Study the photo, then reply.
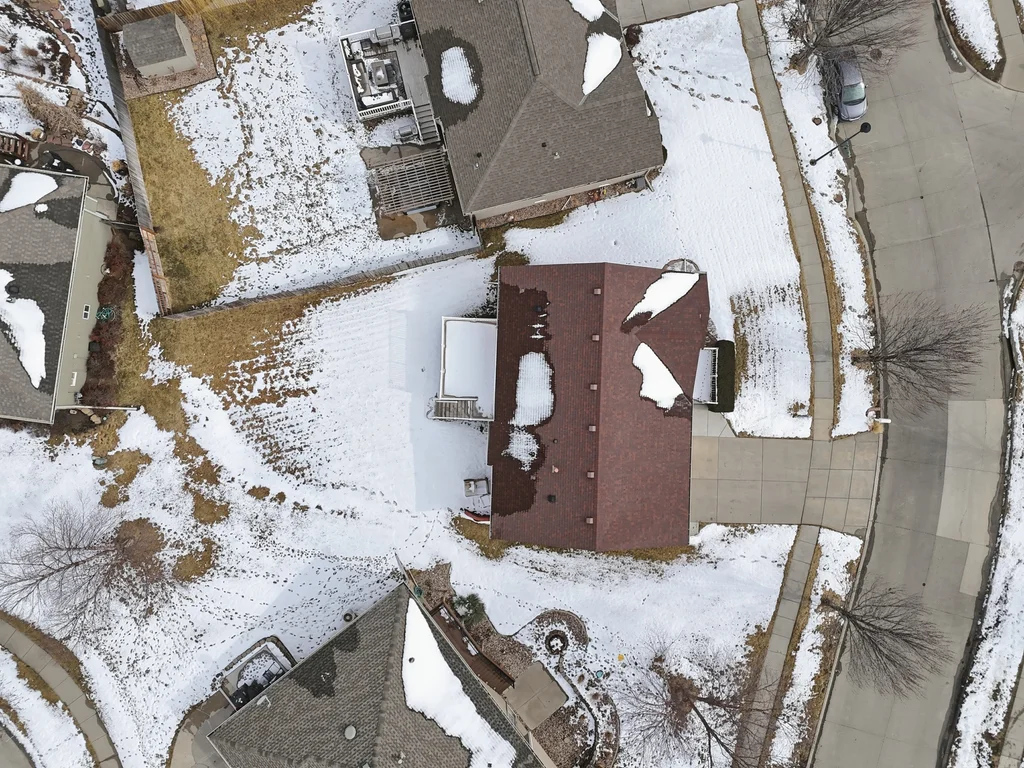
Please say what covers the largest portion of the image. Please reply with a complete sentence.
For the most part, this view shows grass.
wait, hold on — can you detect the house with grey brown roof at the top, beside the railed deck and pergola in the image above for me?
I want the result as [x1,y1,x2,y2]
[410,0,664,220]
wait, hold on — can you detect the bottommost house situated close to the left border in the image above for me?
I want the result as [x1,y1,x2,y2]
[0,158,114,425]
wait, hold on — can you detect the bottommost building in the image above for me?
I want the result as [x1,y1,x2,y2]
[207,578,564,768]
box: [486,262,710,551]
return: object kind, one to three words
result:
house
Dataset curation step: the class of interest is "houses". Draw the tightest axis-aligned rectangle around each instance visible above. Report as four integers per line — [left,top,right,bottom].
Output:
[486,262,710,551]
[0,158,114,425]
[207,578,564,768]
[410,0,664,220]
